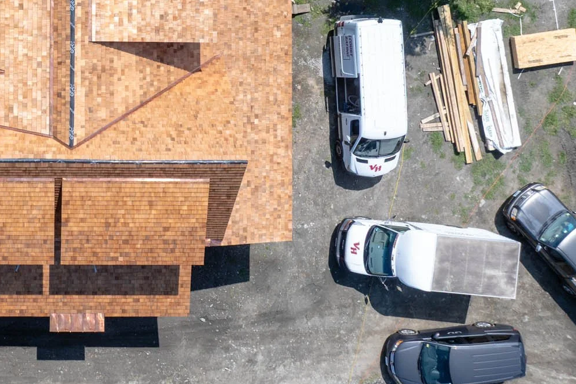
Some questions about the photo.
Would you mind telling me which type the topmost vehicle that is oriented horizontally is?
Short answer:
truck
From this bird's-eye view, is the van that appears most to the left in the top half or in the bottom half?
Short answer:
top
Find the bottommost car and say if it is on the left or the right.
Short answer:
right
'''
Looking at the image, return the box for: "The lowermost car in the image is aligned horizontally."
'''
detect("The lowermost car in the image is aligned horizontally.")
[383,320,533,384]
